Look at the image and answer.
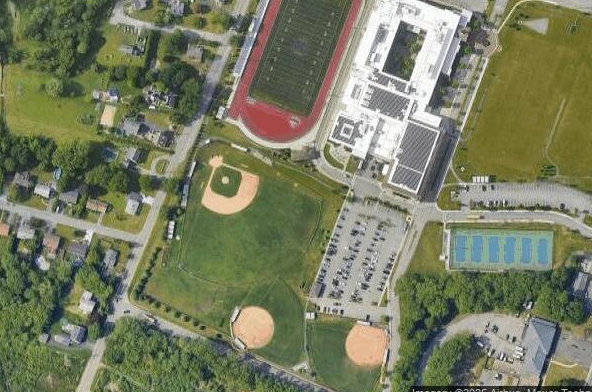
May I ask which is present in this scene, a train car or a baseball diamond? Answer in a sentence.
Looking from above, you can make out a baseball diamond.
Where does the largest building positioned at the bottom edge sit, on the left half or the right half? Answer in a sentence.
You can find the largest building positioned at the bottom edge on the right side of the picture.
